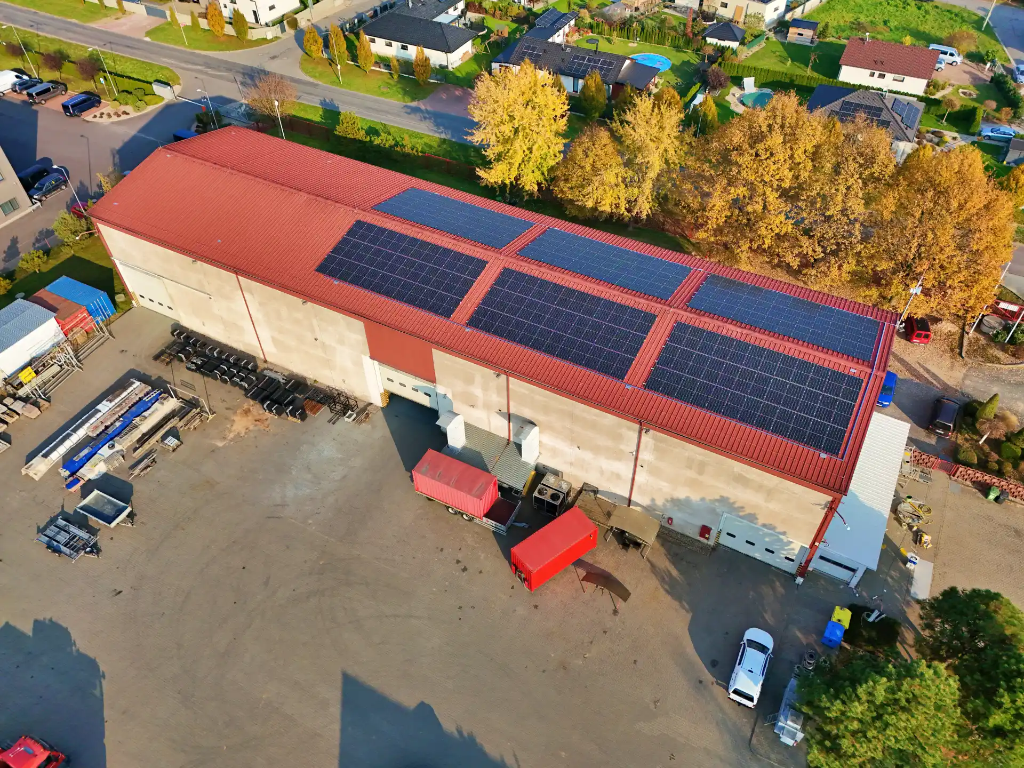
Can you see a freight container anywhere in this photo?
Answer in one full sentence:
Yes, the frame does contain a freight container.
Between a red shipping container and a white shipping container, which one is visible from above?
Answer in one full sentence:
Of the two, only a red shipping container appears.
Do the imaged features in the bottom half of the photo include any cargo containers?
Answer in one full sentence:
Yes, a cargo container is visible in the bottom half of the photo.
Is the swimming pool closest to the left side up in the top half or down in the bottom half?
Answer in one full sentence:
It is in the top half that the swimming pool closest to the left side appears.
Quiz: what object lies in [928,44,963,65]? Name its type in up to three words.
vehicle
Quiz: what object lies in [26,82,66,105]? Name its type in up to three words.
vehicle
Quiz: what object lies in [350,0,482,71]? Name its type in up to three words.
house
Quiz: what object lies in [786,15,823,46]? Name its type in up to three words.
shed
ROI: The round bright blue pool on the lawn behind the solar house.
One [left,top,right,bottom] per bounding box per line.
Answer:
[631,53,671,73]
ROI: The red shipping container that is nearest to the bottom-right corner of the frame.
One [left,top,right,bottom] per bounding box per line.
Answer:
[513,507,598,593]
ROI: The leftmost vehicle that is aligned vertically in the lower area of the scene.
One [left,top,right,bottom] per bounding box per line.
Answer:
[732,626,773,711]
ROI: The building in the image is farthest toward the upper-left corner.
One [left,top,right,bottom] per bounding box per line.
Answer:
[0,168,39,228]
